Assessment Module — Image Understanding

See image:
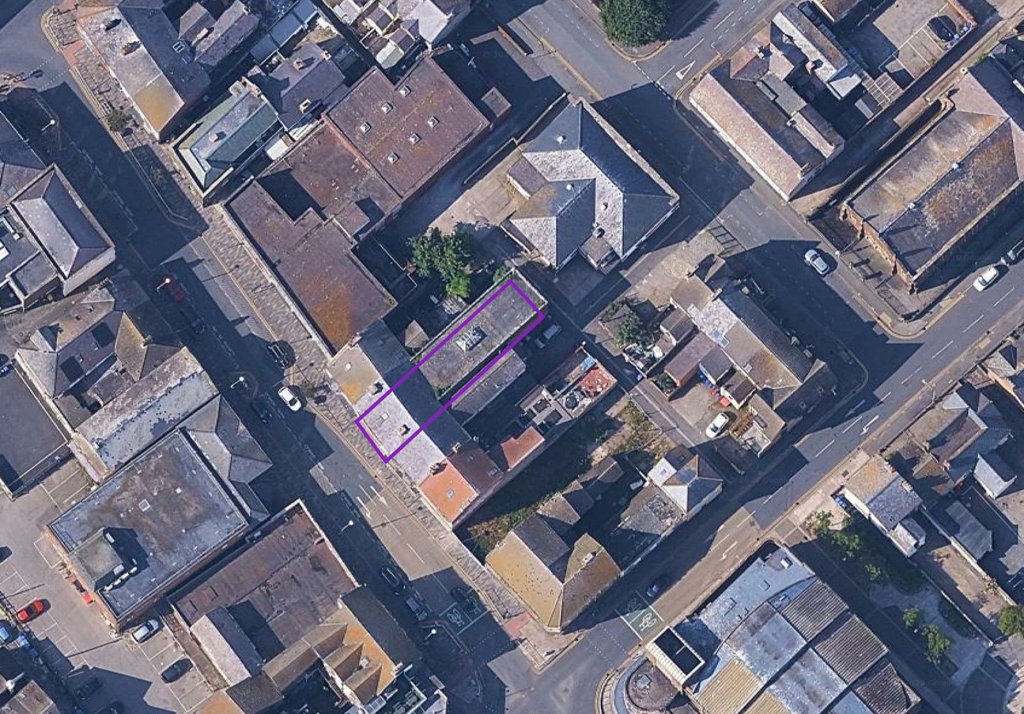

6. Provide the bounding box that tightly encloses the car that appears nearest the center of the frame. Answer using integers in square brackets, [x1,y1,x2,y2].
[531,319,564,351]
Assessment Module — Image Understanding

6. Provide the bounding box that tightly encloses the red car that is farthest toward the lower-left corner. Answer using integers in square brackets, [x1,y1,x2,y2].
[15,597,46,623]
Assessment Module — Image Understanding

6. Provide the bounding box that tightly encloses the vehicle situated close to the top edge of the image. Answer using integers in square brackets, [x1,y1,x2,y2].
[929,13,957,46]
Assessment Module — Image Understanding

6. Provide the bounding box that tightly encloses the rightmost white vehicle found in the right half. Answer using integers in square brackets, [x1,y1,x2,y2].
[974,264,1004,292]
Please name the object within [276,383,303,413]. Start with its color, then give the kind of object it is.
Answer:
white car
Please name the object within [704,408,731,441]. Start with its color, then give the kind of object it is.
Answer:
white car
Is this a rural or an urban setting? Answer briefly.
urban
